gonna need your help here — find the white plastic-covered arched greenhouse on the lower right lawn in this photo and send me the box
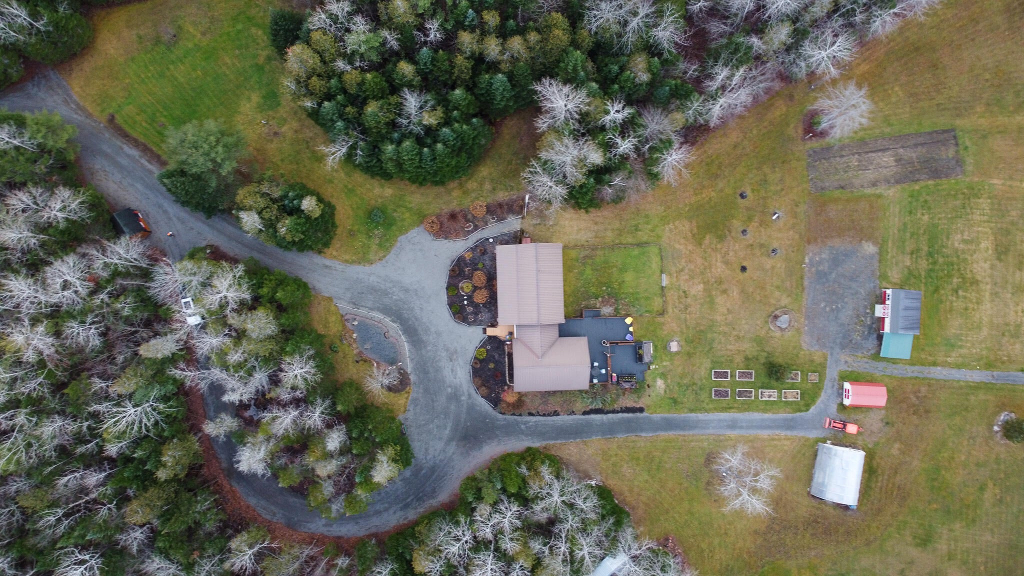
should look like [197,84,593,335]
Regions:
[811,445,867,505]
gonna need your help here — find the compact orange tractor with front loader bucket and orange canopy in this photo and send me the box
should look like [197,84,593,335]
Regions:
[822,415,863,437]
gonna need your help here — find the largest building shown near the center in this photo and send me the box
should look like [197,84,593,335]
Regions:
[496,237,591,392]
